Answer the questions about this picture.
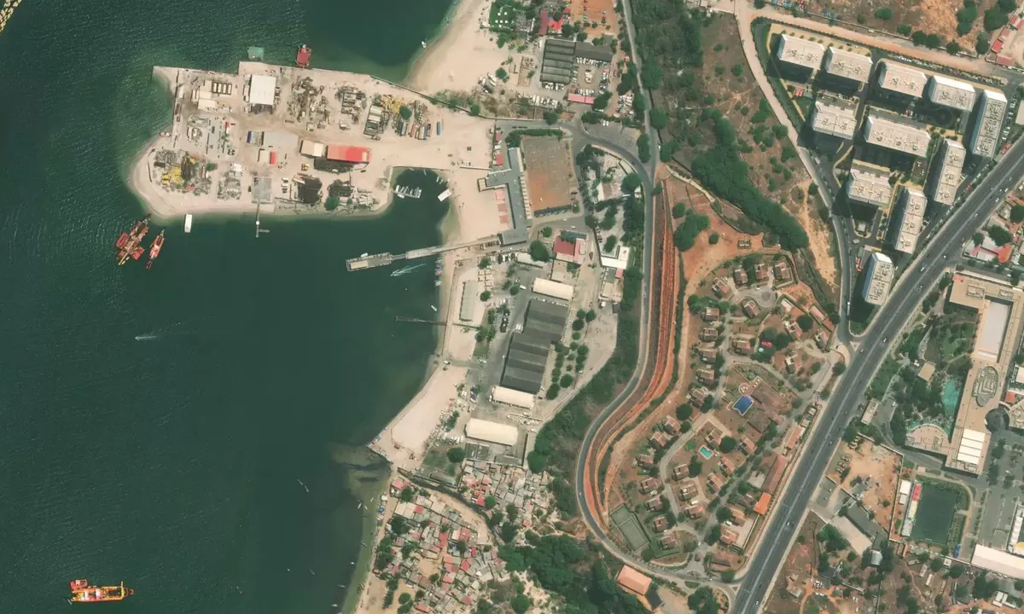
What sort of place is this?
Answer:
port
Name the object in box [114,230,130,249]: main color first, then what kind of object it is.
red ship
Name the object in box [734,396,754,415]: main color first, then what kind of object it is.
blue swimming pool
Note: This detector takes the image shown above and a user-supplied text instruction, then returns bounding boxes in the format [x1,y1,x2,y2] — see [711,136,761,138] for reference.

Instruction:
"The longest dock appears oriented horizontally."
[405,235,500,259]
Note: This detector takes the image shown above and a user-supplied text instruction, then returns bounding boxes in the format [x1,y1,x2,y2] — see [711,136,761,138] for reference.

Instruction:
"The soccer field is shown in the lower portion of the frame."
[910,482,956,543]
